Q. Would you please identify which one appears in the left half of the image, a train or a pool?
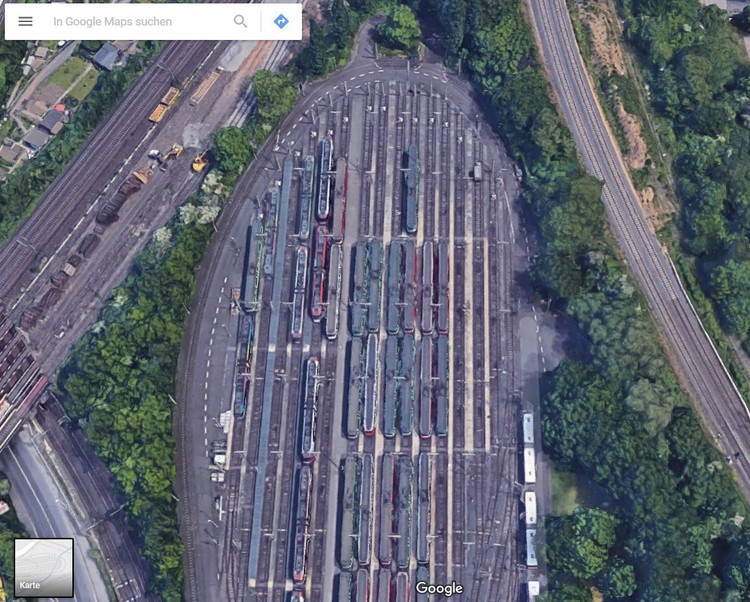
train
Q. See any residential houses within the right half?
No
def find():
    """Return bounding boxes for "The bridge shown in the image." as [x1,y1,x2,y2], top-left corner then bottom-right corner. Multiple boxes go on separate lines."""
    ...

[0,300,64,456]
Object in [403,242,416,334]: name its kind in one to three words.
train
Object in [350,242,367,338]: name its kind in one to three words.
train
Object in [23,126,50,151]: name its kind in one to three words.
house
